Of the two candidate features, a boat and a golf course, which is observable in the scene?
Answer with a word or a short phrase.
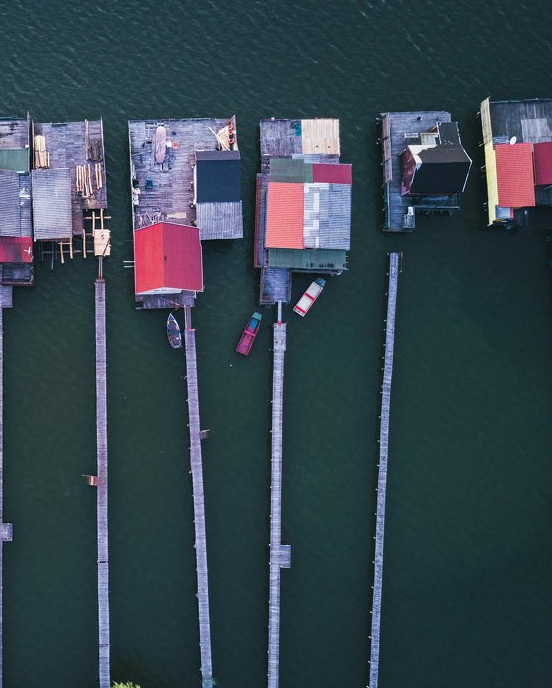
boat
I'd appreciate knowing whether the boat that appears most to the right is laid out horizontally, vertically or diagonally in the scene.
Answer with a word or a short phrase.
diagonally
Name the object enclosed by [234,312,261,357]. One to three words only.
boat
